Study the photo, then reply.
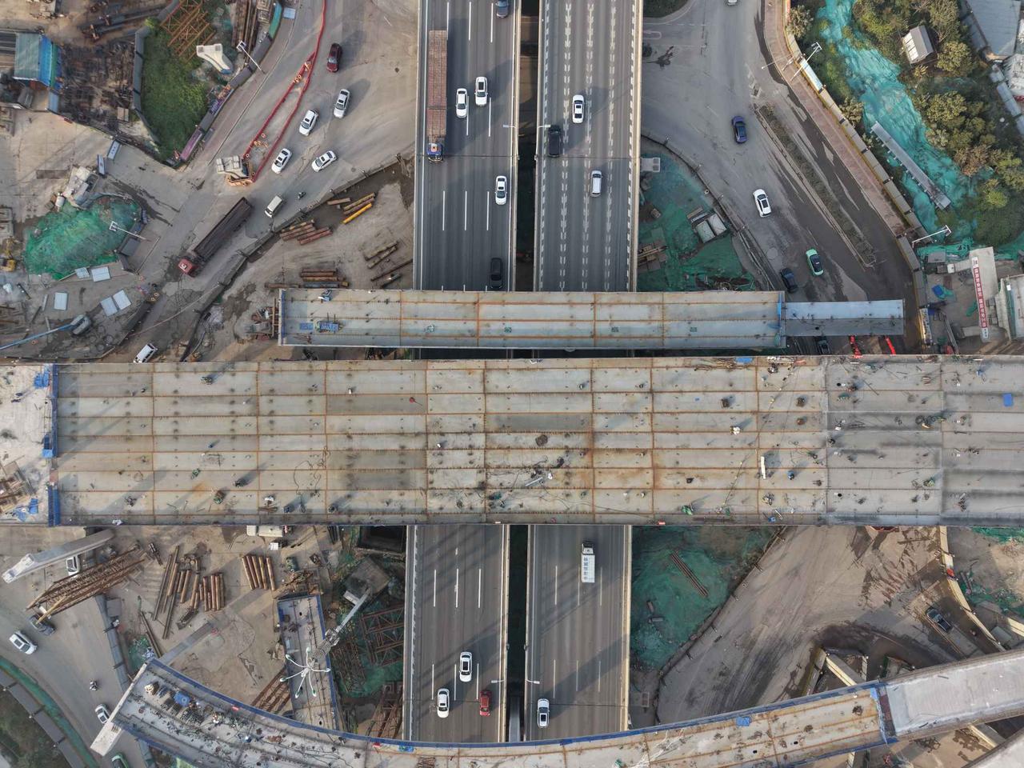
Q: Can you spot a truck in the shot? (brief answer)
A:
Yes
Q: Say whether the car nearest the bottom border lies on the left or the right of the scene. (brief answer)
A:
left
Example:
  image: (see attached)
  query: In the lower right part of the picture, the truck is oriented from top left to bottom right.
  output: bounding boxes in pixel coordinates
[925,606,953,633]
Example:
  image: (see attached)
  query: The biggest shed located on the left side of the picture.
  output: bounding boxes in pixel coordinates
[6,33,70,93]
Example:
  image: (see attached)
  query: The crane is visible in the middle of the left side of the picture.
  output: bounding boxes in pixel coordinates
[0,309,97,345]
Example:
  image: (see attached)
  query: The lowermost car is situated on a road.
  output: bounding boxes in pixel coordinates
[109,746,133,768]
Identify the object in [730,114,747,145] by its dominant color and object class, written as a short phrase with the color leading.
blue car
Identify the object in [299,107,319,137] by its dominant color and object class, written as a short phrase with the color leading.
white car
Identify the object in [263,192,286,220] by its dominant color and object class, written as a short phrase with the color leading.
white car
